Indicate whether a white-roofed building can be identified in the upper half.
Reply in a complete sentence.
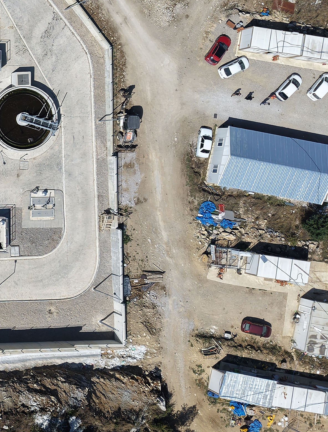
Yes, a white-roofed building shows up in the upper half.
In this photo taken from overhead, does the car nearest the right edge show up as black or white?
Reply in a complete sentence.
The car nearest the right edge is white.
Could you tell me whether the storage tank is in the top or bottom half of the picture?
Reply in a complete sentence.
The top half of the photo is where the storage tank is.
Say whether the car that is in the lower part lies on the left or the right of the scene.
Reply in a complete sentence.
You can find the car that is in the lower part on the right side of the picture.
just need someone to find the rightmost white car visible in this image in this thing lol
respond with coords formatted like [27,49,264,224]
[300,71,328,105]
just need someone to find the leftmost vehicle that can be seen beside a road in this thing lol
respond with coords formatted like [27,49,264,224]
[119,91,148,153]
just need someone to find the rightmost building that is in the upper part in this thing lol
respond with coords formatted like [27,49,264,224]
[289,34,328,64]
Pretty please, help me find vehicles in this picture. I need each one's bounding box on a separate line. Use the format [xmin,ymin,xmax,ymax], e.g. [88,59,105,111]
[193,124,215,160]
[212,53,252,81]
[300,71,328,105]
[201,30,232,68]
[119,91,148,153]
[270,70,306,105]
[234,316,275,339]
